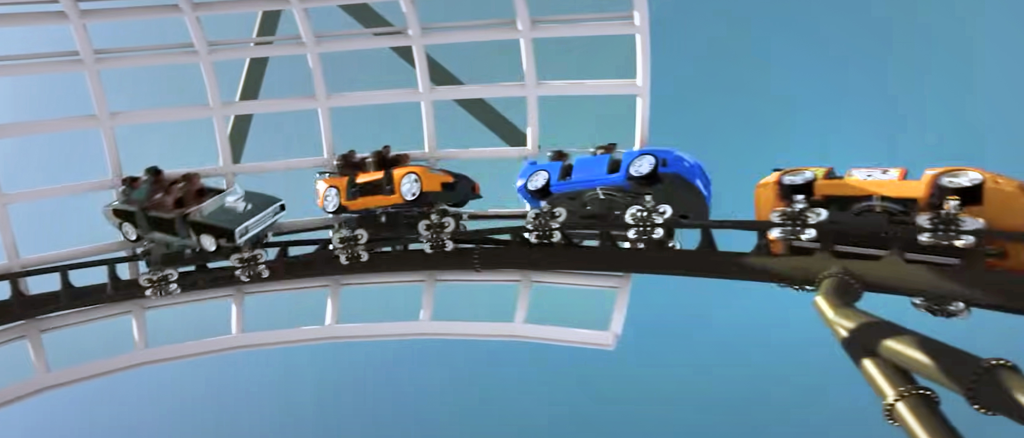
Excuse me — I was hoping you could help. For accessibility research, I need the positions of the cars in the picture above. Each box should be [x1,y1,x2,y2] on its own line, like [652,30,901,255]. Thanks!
[105,178,290,294]
[319,159,486,260]
[520,148,715,250]
[750,167,1024,337]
